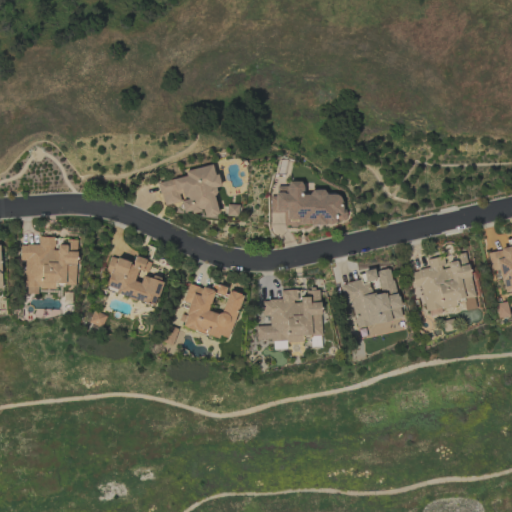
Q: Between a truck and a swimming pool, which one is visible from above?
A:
swimming pool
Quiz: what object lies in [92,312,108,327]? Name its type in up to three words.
gazebo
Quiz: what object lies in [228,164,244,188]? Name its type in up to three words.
swimming pool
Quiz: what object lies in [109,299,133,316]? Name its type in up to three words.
swimming pool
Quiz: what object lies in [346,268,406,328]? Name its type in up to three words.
house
